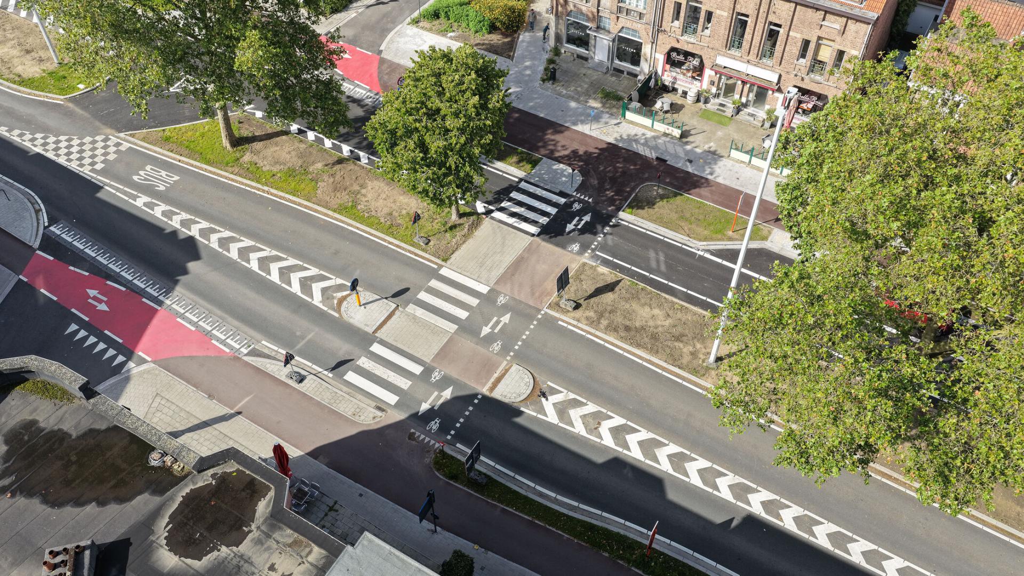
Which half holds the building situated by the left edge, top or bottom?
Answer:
bottom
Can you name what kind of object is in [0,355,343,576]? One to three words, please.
building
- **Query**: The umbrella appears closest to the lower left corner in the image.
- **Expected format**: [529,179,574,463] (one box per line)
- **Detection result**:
[276,438,299,482]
